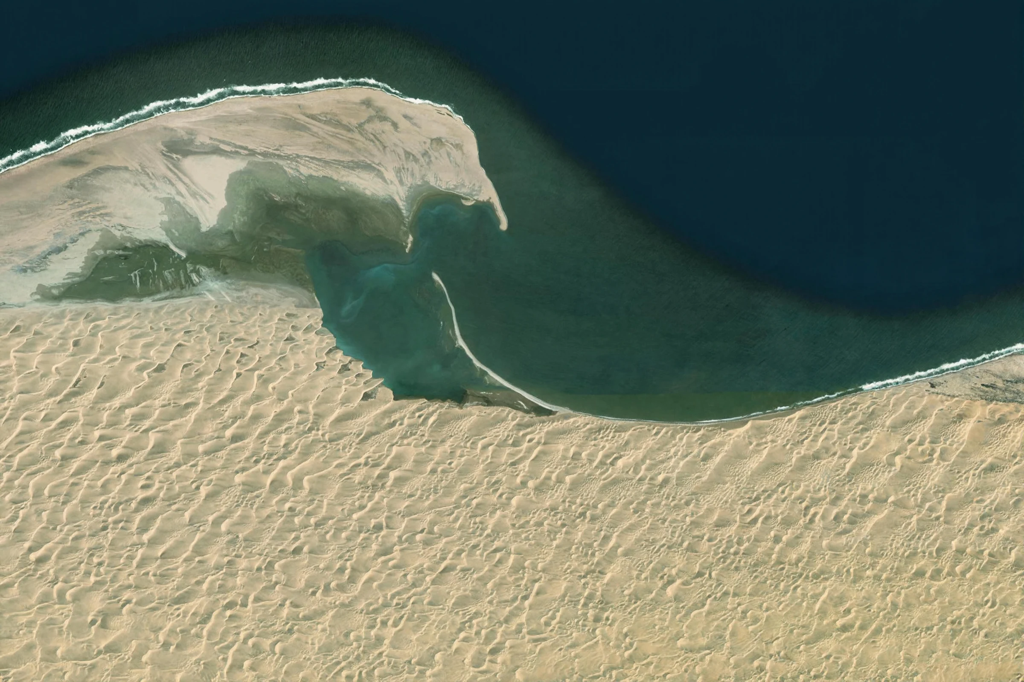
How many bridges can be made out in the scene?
0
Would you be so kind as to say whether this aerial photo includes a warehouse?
No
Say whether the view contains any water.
Yes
